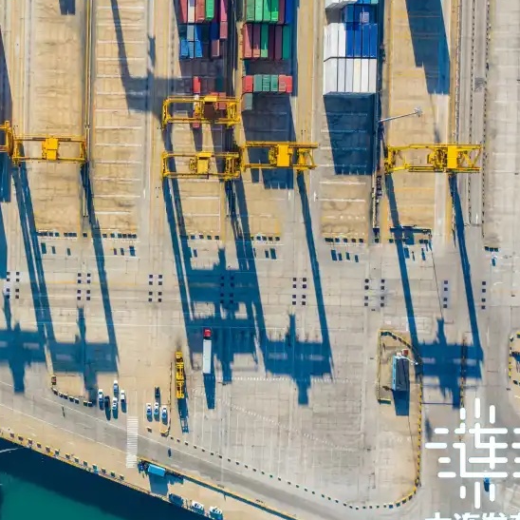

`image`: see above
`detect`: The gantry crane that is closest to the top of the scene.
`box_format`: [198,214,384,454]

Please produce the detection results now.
[158,95,244,131]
